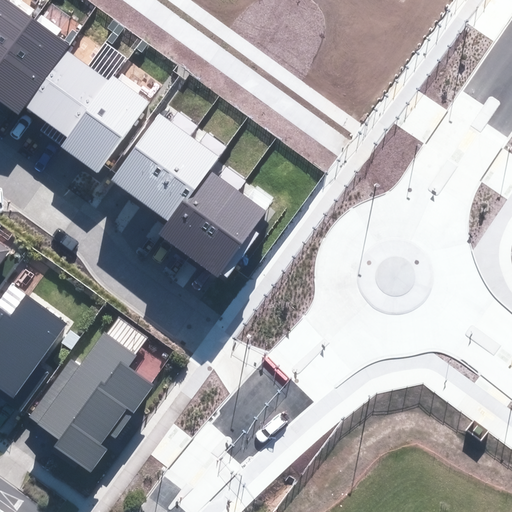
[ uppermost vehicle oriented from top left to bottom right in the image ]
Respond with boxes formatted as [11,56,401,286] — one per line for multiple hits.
[50,228,82,258]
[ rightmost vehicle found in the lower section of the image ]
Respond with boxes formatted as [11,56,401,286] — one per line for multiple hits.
[254,410,292,446]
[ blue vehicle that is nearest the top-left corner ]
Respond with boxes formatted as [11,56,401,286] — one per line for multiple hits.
[6,112,32,142]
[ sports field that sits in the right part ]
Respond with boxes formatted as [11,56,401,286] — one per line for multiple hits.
[321,442,512,512]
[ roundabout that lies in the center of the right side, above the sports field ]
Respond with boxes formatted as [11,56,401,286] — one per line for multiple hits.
[358,239,433,315]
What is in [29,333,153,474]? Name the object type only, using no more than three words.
house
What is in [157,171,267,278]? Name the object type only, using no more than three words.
house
